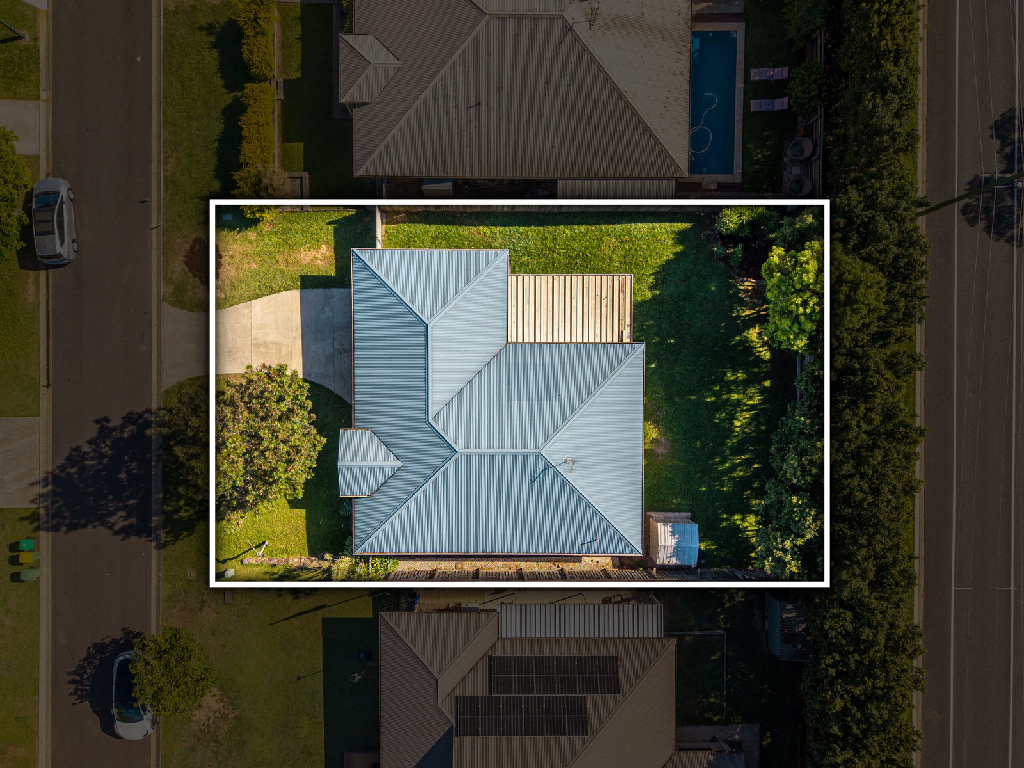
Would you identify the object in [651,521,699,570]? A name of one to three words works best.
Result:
shed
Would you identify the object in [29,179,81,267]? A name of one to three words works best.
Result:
car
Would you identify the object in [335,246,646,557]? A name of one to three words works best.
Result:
house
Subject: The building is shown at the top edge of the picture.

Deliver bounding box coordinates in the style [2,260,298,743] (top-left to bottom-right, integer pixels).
[336,0,693,180]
